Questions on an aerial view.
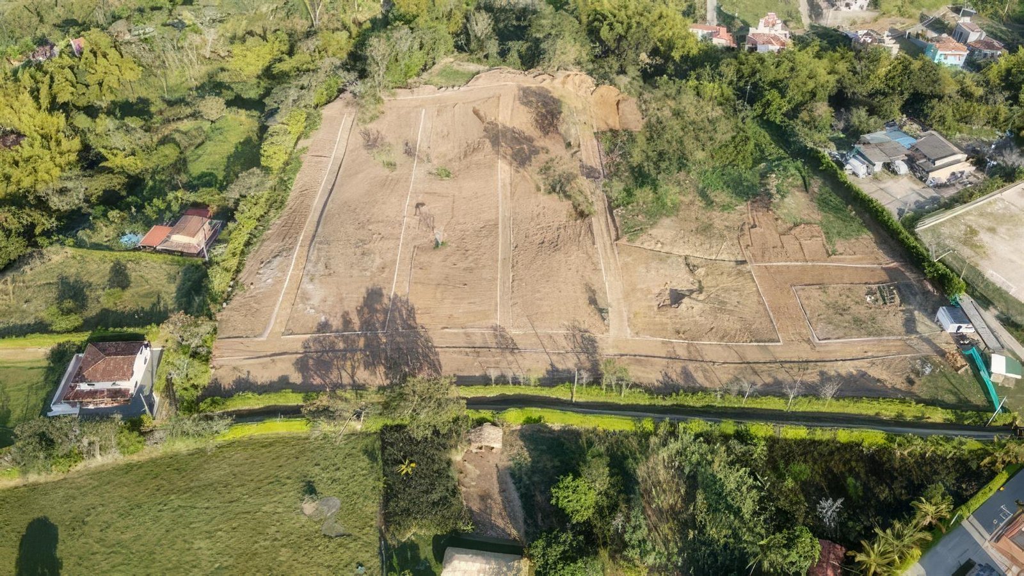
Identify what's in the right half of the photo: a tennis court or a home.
home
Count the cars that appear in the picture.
zero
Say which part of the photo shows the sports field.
right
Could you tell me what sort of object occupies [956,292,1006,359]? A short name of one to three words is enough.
shed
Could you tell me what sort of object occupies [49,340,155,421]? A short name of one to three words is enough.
house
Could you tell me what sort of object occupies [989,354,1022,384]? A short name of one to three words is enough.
shed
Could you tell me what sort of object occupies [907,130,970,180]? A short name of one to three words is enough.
building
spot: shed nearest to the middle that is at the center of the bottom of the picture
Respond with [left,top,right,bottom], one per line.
[471,425,503,453]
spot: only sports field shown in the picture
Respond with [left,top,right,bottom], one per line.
[917,184,1024,303]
